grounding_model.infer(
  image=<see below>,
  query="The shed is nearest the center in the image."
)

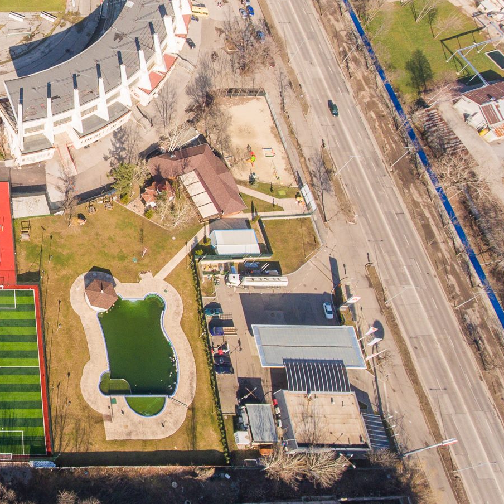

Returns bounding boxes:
[207,231,262,254]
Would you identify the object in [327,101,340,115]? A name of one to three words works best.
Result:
vehicle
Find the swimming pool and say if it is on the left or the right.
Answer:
left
